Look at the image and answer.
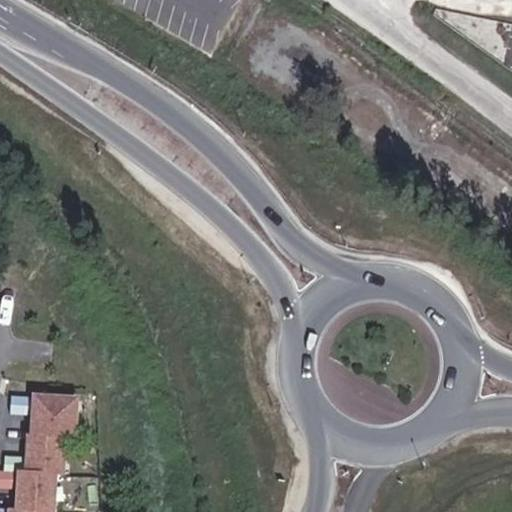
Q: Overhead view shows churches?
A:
No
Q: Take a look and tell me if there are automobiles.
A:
Yes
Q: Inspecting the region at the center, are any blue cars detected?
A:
No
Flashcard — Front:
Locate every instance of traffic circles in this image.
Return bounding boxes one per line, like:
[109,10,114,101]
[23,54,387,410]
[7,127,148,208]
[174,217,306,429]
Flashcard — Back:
[287,270,472,456]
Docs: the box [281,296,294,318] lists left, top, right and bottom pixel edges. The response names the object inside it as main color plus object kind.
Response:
gray vehicle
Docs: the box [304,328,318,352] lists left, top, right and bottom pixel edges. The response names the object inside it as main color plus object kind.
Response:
white vehicle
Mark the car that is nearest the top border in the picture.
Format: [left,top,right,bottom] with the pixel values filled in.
[263,206,284,225]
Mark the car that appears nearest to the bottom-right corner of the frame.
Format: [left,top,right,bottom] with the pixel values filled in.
[444,366,456,390]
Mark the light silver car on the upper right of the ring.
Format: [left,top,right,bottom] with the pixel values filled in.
[426,308,446,326]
